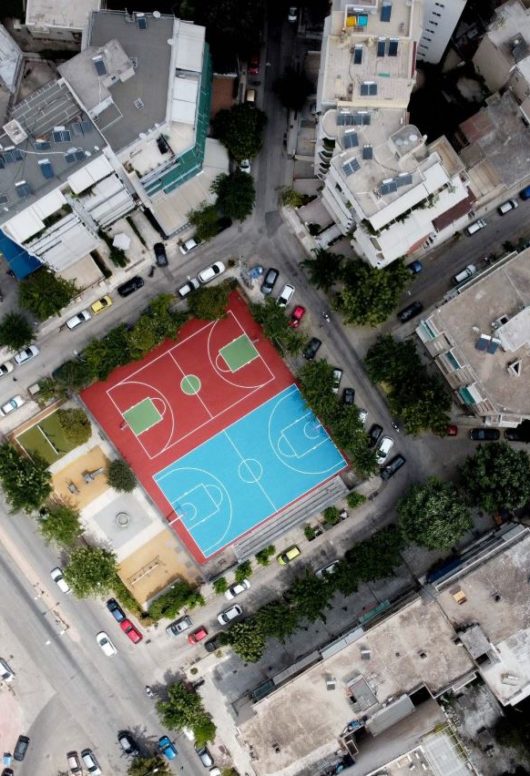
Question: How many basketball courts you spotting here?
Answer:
two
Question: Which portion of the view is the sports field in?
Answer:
left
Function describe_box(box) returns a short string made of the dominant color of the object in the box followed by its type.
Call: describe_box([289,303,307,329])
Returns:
red car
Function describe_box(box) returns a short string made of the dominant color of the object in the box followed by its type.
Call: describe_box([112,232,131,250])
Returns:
white umbrella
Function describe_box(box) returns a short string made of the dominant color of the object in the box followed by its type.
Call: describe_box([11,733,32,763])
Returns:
gray car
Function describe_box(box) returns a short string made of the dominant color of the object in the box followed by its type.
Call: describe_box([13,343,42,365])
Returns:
white car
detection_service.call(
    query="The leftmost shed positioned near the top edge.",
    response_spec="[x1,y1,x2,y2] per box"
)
[0,23,37,103]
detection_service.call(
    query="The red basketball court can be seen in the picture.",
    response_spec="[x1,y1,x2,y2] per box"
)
[80,292,349,564]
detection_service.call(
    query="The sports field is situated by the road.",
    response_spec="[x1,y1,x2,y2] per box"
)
[16,408,86,468]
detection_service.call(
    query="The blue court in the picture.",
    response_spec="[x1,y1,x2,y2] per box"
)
[153,385,347,556]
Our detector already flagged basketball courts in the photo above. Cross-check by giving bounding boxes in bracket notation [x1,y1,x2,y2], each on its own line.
[80,292,349,564]
[153,385,347,556]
